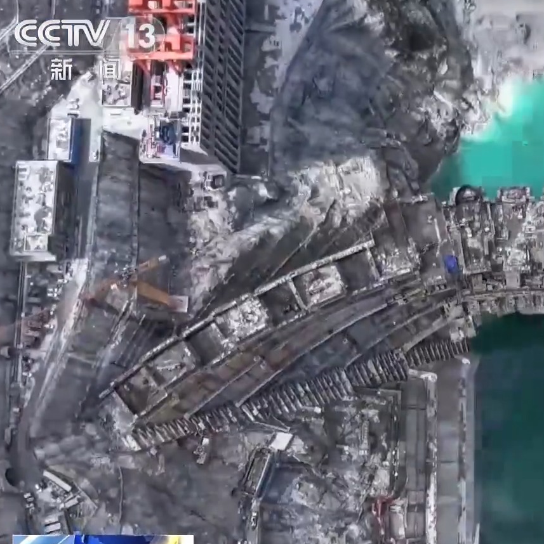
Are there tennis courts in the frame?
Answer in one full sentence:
No, no tennis court is visible in the scene.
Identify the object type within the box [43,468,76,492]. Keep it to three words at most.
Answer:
shed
